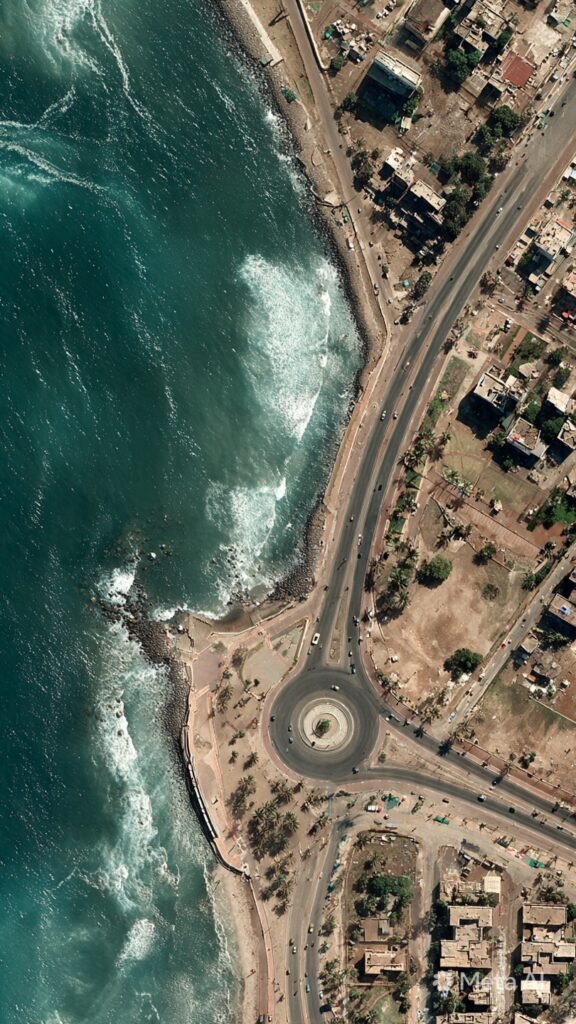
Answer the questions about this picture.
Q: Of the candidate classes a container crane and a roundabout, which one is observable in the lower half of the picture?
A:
roundabout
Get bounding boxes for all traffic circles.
[269,667,383,782]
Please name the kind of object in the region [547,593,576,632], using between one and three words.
house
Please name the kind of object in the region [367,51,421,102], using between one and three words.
building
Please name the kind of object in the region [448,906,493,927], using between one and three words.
house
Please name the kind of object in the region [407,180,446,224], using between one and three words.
building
